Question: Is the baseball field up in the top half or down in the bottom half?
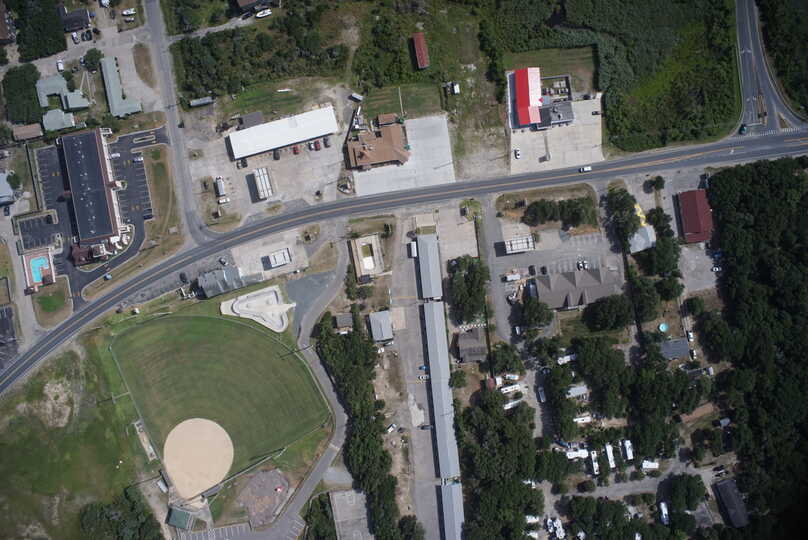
bottom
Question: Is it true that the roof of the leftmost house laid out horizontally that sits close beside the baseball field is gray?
Yes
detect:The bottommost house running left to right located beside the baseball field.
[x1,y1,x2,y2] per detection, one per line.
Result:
[200,265,264,298]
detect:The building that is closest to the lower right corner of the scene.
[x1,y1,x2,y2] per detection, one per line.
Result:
[716,479,750,528]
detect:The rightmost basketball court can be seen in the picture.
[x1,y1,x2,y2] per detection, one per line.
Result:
[331,490,372,540]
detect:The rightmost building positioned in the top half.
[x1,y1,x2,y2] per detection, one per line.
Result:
[679,189,713,242]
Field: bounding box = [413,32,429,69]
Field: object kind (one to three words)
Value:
barn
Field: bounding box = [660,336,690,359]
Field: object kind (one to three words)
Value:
house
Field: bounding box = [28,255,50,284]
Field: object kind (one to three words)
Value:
swimming pool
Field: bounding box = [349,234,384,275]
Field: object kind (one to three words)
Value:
building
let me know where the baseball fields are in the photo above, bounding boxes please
[112,315,331,502]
